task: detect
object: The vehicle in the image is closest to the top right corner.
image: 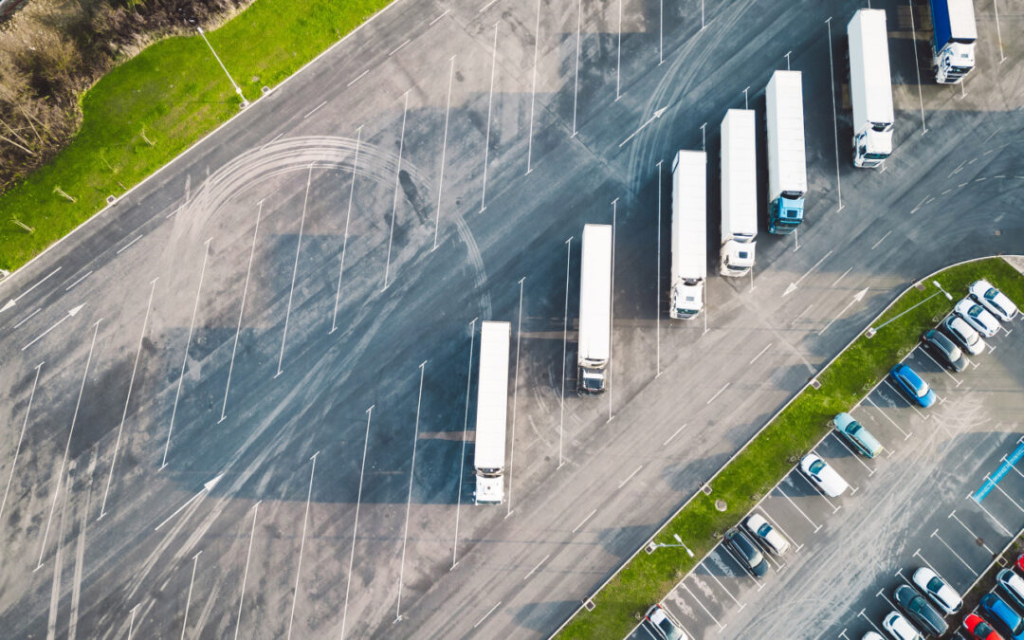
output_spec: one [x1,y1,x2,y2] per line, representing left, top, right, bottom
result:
[926,0,977,84]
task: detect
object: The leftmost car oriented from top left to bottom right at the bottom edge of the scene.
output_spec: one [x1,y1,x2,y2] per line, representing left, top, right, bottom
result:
[644,599,692,640]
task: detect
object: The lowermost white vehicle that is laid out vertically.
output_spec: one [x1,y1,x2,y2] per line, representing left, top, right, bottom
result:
[471,318,509,505]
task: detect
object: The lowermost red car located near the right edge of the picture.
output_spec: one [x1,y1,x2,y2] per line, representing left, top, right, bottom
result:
[963,613,1006,640]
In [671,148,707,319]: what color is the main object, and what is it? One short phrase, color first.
white truck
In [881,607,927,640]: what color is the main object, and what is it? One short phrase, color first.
white car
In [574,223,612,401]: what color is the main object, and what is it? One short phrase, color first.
white truck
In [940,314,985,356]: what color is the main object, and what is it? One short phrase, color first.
white car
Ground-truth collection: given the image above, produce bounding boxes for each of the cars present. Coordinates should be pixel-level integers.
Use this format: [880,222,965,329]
[954,299,1000,339]
[963,613,1006,640]
[800,452,850,500]
[980,596,1024,640]
[940,314,985,356]
[832,412,883,460]
[644,599,692,640]
[995,569,1024,611]
[721,526,771,579]
[889,364,934,407]
[970,282,1016,321]
[919,327,969,373]
[1015,556,1024,577]
[881,607,927,640]
[745,512,791,560]
[912,567,963,616]
[893,584,949,639]
[947,631,969,640]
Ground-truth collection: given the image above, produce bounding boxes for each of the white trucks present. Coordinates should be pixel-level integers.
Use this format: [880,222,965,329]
[671,148,707,319]
[471,318,509,505]
[720,109,758,276]
[574,223,612,401]
[764,71,806,235]
[846,9,893,167]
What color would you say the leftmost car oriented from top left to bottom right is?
white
